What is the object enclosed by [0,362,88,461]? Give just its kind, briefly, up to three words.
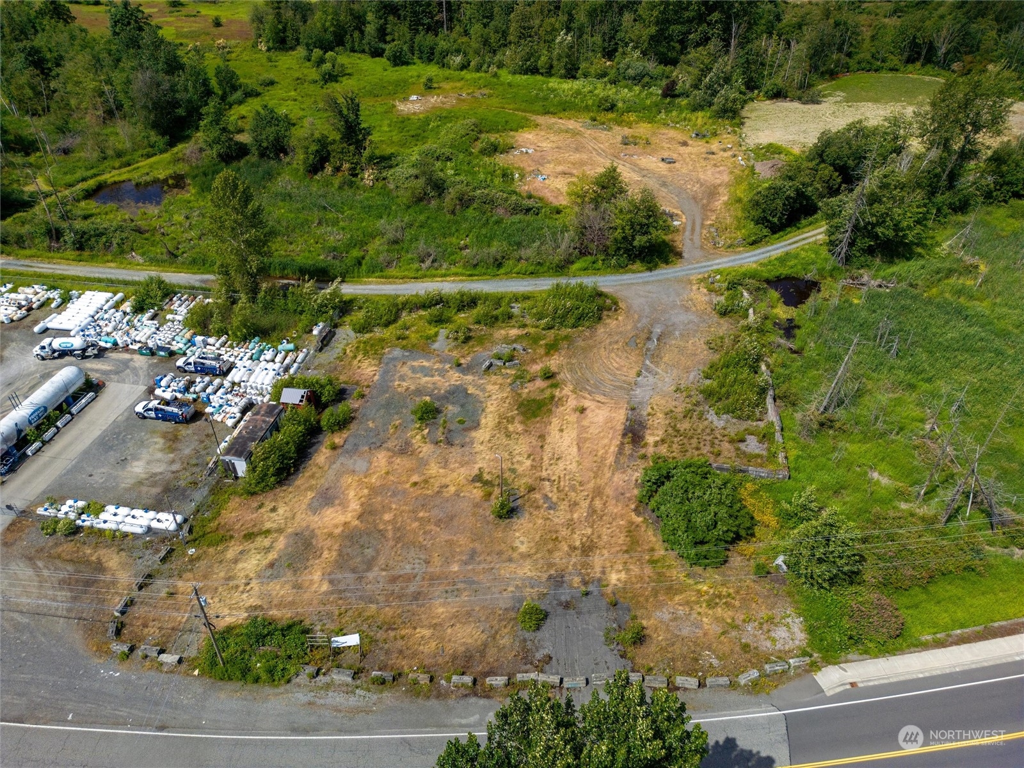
storage tank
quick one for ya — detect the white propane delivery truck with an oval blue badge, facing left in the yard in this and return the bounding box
[27,334,99,359]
